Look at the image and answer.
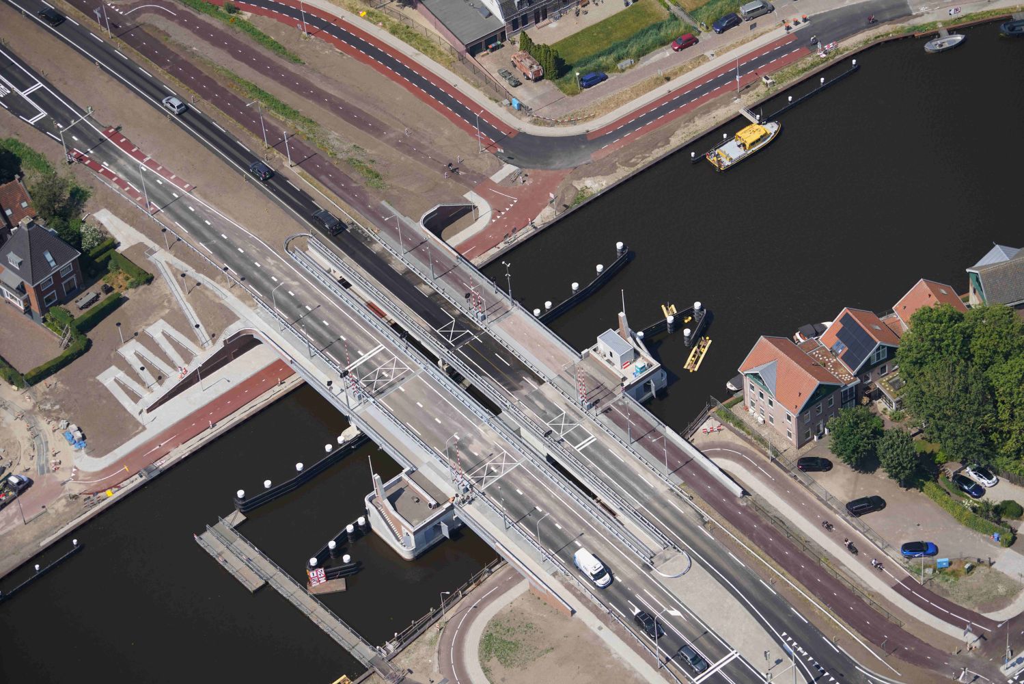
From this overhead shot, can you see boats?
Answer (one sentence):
Yes, there is a boat in the image.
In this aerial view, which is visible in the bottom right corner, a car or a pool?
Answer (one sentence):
The feature located in the bottom right corner is a car.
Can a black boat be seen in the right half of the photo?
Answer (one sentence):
Yes, a black boat shows up in the right half of the photo.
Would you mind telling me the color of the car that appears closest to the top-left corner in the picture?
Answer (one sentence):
The car that appears closest to the top-left corner is black.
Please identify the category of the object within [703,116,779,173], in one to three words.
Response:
boat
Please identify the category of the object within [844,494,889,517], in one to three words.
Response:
car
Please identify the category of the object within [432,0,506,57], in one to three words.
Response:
building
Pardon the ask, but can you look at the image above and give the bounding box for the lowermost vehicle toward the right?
[671,641,714,675]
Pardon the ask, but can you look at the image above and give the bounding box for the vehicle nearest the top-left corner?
[34,4,68,29]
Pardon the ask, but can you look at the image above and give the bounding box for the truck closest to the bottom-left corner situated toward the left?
[0,471,34,507]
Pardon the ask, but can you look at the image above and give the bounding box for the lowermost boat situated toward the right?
[722,368,741,392]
